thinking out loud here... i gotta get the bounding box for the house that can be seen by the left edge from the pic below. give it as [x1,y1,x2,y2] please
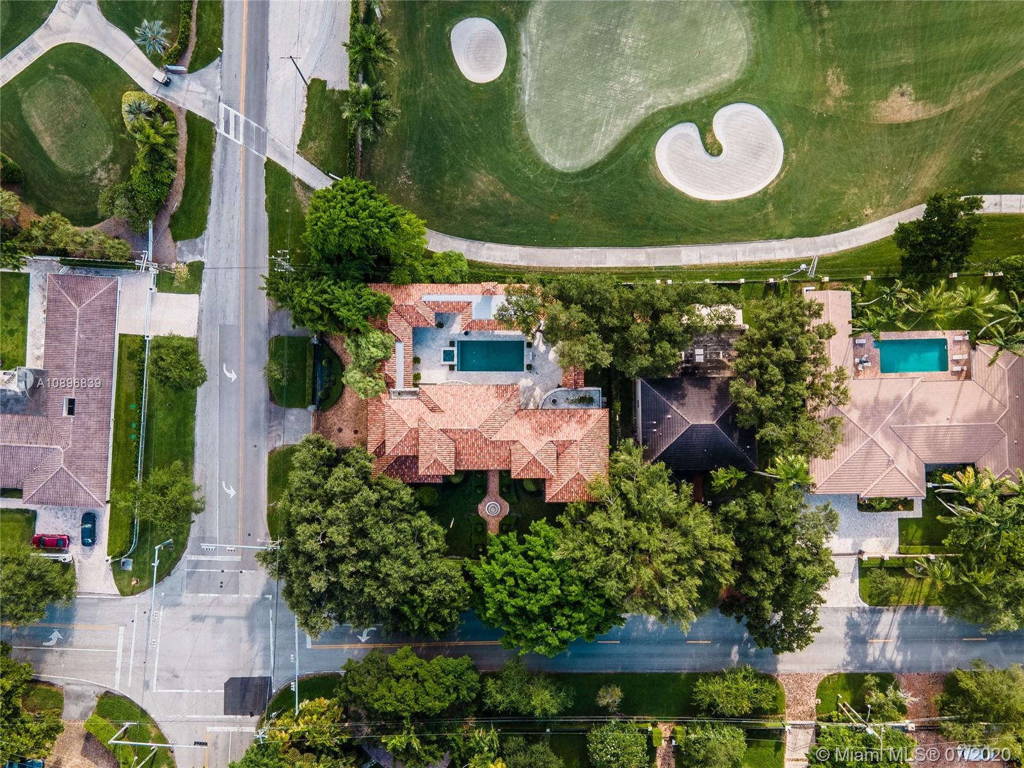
[0,274,125,507]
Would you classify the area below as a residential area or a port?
residential area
